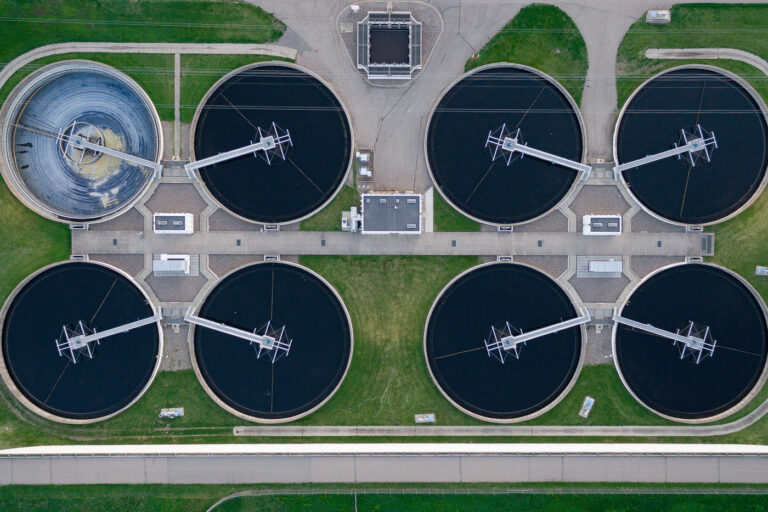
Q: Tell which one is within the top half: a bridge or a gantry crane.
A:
bridge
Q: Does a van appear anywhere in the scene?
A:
No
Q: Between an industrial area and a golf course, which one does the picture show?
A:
industrial area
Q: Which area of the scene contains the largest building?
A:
center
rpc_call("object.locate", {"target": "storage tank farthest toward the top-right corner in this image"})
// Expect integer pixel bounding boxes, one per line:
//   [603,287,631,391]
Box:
[611,64,768,226]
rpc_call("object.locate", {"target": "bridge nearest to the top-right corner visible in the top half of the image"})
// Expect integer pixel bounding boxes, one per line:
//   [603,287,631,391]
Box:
[615,136,706,184]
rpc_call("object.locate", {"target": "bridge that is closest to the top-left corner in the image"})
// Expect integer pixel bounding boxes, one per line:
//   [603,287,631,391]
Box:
[70,133,162,180]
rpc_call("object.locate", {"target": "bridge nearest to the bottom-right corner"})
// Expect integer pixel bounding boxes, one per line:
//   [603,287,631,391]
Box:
[614,304,704,352]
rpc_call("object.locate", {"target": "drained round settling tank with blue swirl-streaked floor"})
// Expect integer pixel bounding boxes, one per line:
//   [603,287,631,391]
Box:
[0,59,166,223]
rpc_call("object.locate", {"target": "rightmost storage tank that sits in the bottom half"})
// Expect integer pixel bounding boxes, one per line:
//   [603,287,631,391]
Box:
[610,262,768,424]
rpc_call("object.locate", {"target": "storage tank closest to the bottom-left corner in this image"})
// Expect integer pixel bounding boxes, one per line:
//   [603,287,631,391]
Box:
[0,260,166,424]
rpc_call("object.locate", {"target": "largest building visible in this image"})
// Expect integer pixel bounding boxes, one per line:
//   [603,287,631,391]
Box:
[361,193,423,235]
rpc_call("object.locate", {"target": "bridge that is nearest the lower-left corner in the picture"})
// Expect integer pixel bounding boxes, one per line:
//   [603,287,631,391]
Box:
[70,303,162,350]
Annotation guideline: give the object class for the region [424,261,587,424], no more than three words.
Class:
storage tank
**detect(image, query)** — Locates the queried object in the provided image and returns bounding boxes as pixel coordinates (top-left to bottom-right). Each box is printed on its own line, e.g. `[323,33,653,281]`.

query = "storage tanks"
[610,262,768,424]
[424,63,588,225]
[424,261,587,424]
[0,59,166,223]
[611,64,768,226]
[189,260,353,424]
[190,61,355,224]
[0,260,166,424]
